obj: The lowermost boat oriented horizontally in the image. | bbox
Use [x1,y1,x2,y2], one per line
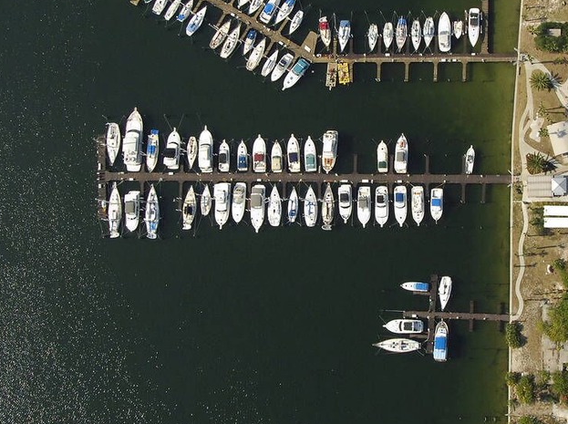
[373,339,421,353]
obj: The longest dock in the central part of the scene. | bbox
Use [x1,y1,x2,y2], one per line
[96,136,512,219]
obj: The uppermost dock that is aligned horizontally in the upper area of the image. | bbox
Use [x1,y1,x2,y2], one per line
[130,0,518,82]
